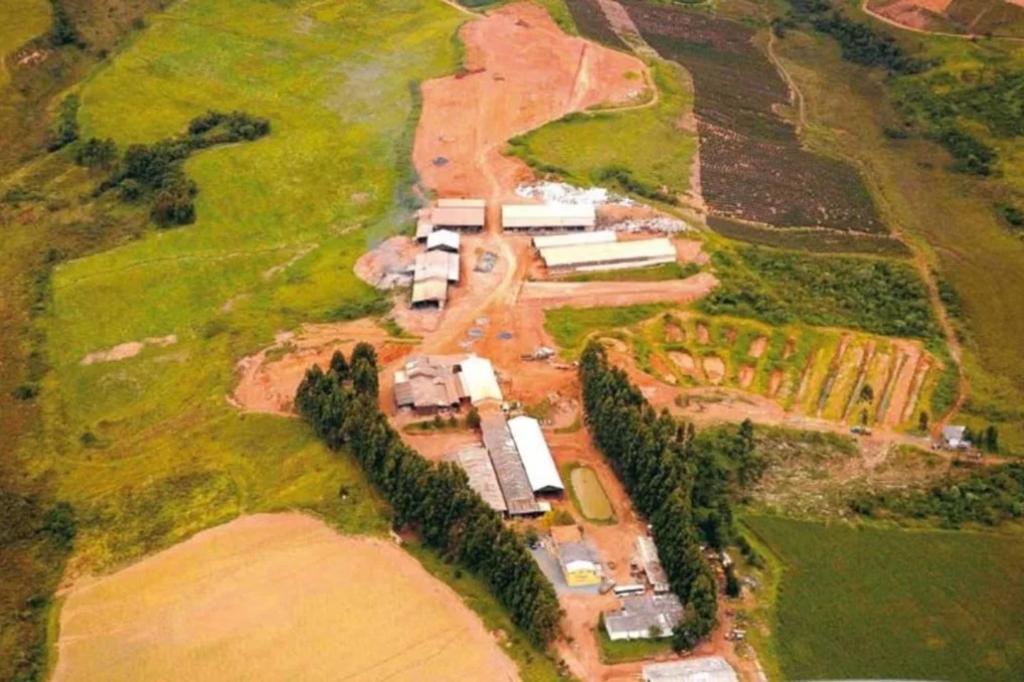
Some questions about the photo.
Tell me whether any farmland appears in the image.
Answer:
Yes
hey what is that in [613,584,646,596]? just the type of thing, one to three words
vehicle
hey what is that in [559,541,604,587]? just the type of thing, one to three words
building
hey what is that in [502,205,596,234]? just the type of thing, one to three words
barn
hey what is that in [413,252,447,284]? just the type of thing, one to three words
shed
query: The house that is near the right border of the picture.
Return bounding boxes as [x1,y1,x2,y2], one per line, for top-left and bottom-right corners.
[940,426,973,451]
